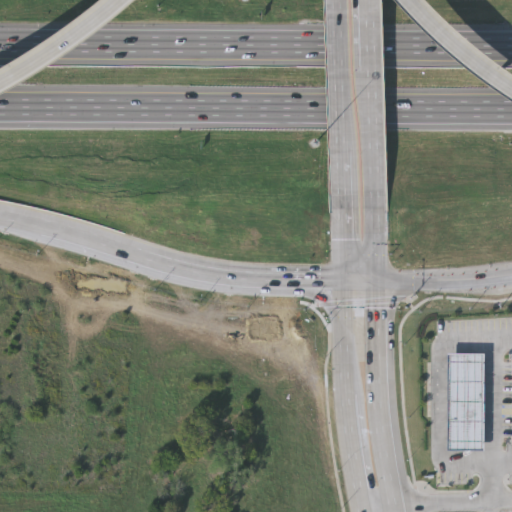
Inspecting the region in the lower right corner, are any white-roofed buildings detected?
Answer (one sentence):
Yes, I can see a white-roofed building in the lower right corner.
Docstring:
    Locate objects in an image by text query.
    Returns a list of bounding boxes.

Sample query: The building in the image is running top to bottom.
[447,354,486,450]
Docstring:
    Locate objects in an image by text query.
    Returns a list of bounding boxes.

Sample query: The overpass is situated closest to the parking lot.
[324,0,388,212]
